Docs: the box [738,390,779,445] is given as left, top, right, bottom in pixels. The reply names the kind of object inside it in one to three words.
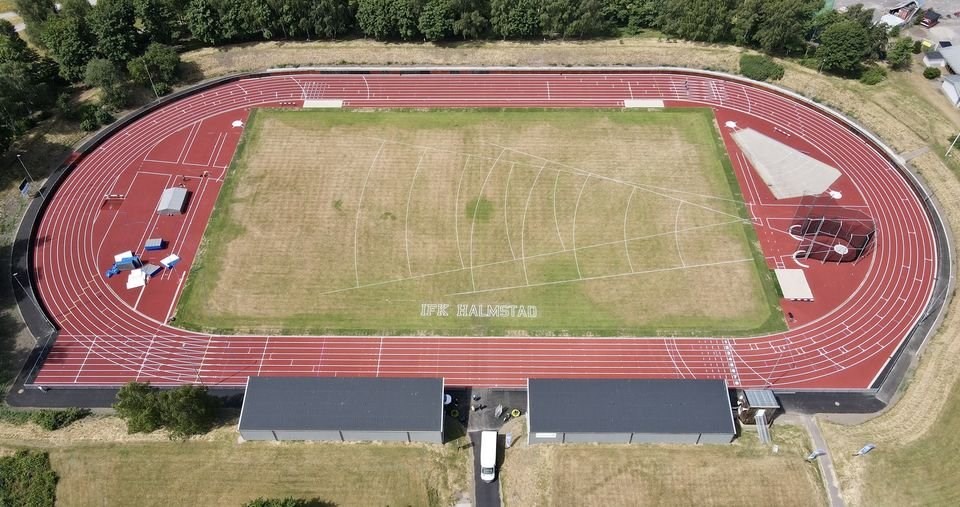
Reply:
building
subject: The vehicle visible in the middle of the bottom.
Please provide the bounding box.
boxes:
[480,430,497,483]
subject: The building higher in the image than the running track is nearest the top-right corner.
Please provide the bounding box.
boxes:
[911,5,942,30]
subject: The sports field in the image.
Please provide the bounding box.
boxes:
[172,107,786,337]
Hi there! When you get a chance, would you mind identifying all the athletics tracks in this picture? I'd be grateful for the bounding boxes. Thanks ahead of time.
[30,74,939,394]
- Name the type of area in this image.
sports ground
